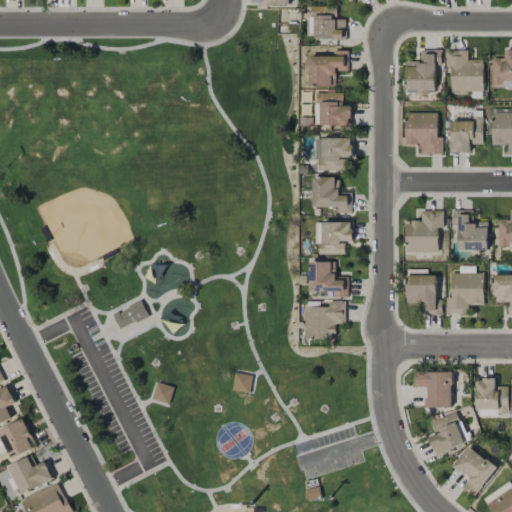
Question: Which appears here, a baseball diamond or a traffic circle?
baseball diamond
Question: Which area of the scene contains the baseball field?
left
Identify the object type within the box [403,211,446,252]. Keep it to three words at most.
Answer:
house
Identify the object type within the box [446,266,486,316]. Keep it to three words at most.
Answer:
house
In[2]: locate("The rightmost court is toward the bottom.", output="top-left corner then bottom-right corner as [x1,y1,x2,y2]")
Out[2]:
[216,422,254,460]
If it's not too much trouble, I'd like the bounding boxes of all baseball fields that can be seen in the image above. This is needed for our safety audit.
[38,186,133,266]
